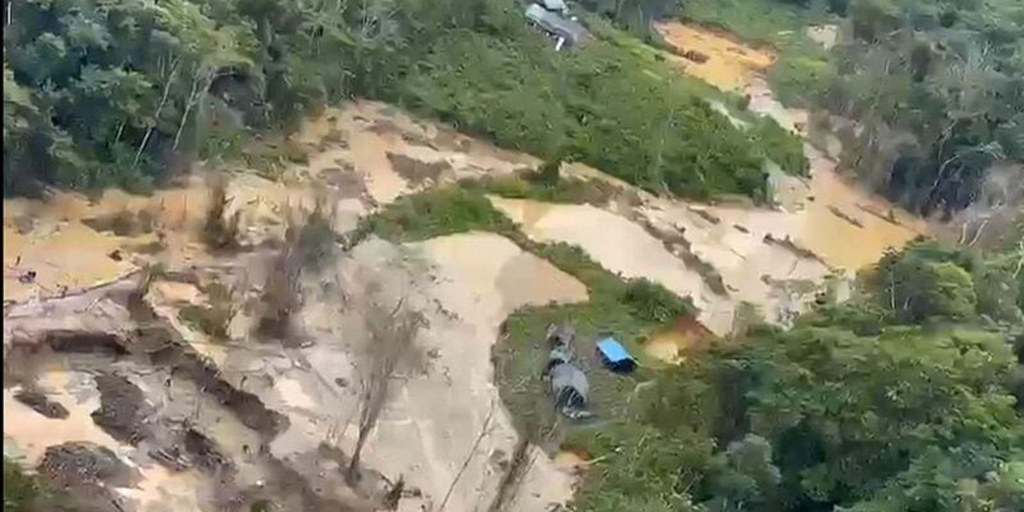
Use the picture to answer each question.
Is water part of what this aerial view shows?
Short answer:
Yes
